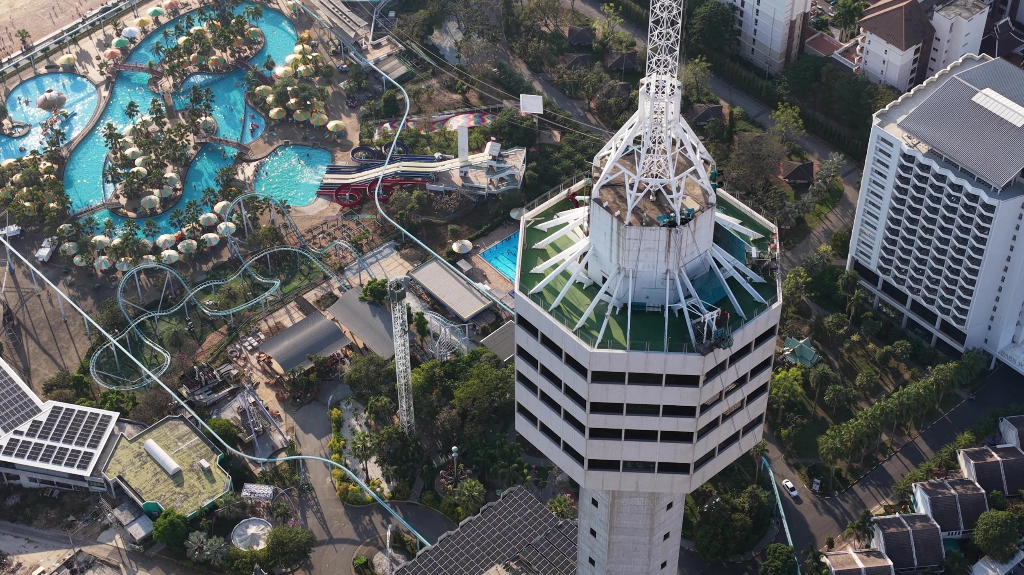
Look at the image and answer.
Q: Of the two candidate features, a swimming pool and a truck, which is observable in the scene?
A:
swimming pool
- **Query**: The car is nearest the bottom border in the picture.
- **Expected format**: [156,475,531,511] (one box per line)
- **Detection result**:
[782,478,799,499]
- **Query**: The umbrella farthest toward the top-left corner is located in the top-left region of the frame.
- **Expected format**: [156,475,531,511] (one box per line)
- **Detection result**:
[59,54,78,67]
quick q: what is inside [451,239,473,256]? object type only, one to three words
umbrella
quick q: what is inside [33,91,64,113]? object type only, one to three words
fountain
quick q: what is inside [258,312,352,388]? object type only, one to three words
shed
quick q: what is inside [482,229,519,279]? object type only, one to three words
swimming pool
